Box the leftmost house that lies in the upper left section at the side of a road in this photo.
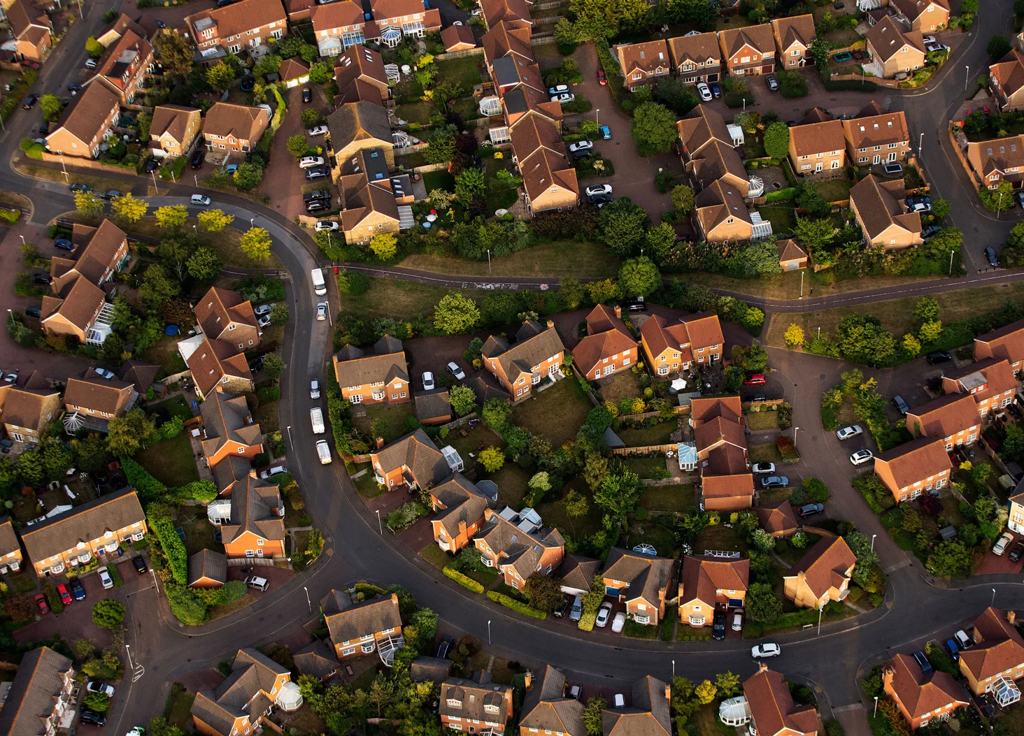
[2,0,50,61]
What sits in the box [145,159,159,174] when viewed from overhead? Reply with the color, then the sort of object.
black car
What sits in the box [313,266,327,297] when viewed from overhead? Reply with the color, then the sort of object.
white vehicle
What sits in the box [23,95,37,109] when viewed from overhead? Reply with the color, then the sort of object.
black car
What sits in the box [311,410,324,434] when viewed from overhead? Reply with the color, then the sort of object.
white vehicle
